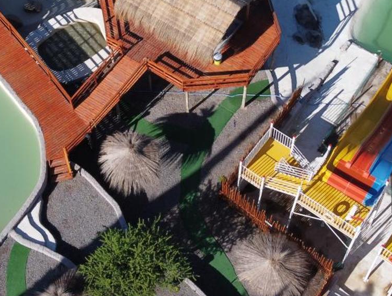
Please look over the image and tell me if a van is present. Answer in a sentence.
No, the photo shows no van.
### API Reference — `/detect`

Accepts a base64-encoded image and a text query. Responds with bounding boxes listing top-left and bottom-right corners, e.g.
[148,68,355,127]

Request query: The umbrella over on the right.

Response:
[228,233,309,296]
